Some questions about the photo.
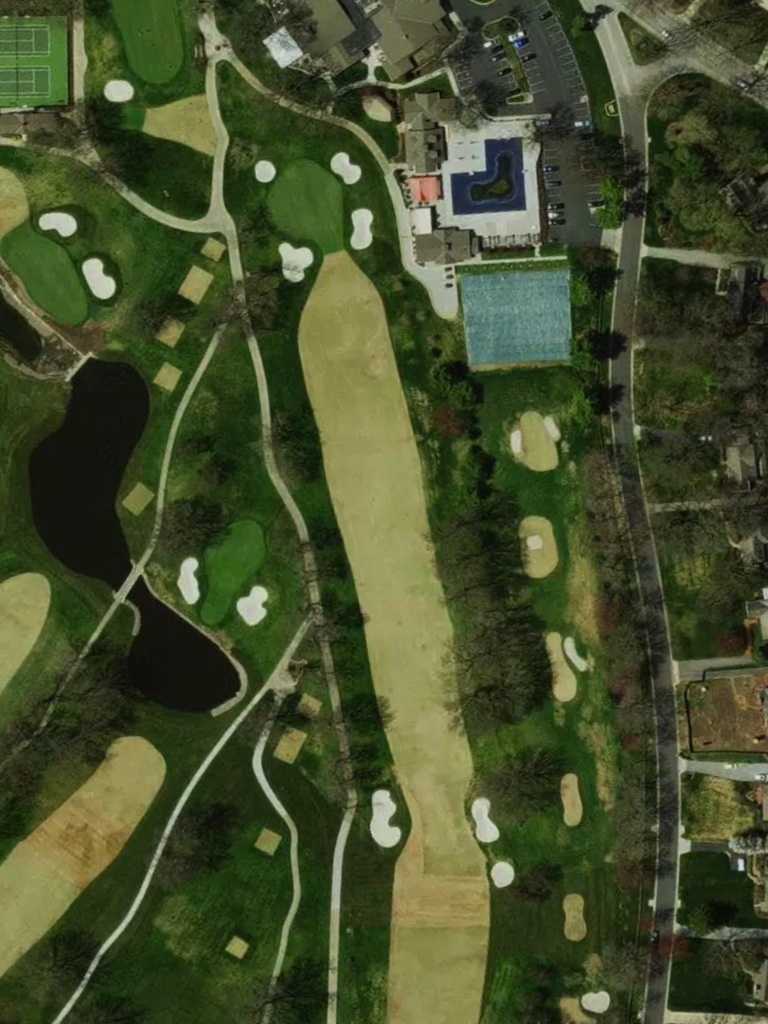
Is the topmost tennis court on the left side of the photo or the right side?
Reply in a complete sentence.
It is on the left.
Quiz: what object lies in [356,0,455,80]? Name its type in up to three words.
building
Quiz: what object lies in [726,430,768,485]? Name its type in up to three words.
house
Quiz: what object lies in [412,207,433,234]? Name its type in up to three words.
building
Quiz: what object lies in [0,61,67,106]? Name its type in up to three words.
tennis court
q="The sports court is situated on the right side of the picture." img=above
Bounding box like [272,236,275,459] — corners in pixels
[460,268,572,371]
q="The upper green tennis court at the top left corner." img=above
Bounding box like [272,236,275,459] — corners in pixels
[0,16,67,61]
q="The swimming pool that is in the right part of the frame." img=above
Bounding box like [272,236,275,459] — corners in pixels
[451,137,527,215]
